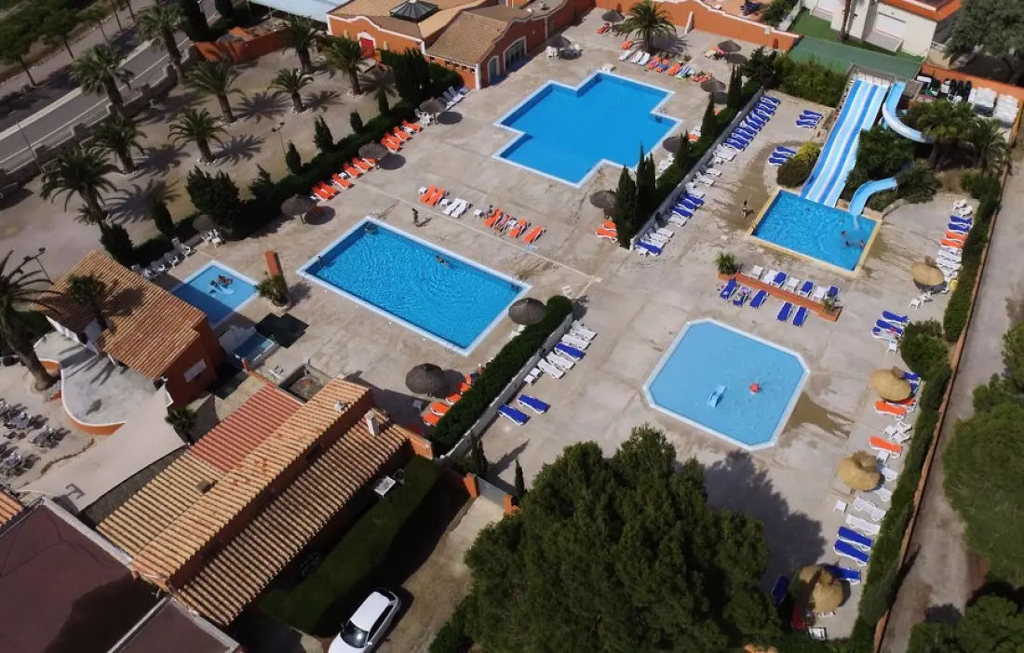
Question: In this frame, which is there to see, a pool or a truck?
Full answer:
I can see a pool in this picture.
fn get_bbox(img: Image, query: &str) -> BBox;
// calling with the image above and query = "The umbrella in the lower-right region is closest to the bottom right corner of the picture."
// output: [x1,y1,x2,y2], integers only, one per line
[796,571,846,617]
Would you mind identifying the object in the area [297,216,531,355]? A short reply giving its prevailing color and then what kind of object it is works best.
blue swimming pool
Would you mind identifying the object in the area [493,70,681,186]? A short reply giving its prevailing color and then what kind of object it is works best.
blue swimming pool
